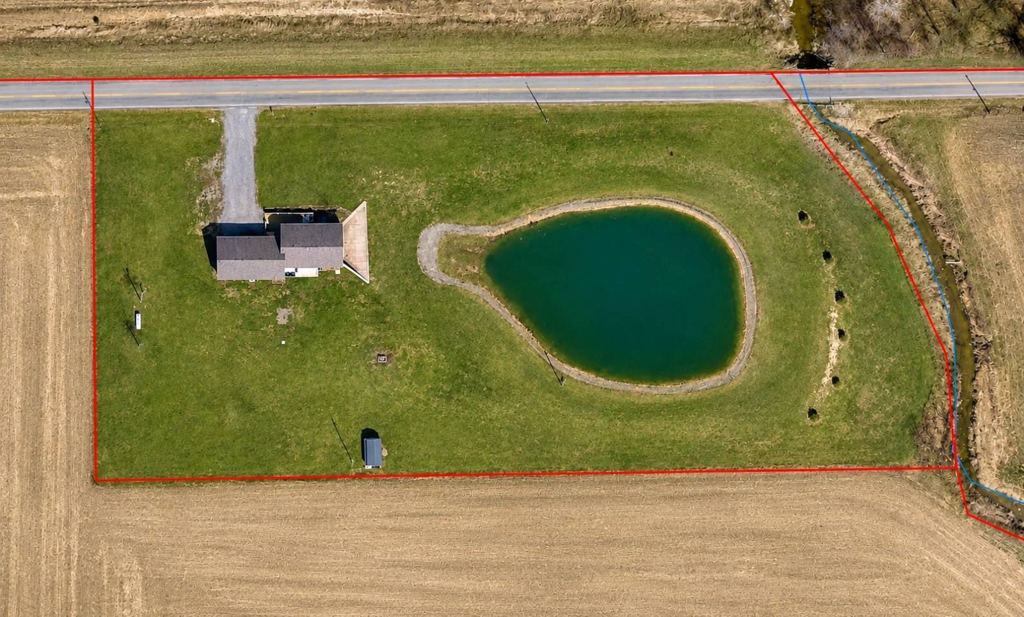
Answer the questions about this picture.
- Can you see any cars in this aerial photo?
No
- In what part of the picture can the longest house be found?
left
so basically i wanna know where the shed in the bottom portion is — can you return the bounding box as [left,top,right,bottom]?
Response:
[365,439,382,469]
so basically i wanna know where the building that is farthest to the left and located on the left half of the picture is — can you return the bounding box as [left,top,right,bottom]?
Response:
[216,213,343,284]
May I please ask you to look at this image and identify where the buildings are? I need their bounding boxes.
[216,213,343,284]
[365,439,382,469]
